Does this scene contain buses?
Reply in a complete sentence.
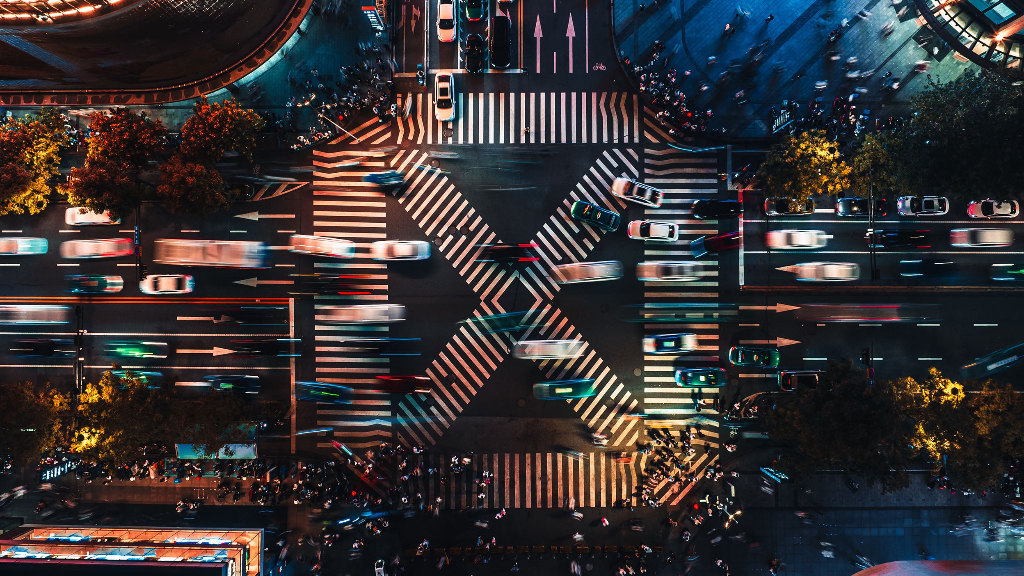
Yes, looking at the shot, I can spot a bus.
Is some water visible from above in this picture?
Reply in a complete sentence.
No, the scene doesn't show any water.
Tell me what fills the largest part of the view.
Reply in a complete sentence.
The scene is dominated by paved ground.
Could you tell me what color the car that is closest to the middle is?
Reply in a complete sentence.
In this view, the car that is closest to the middle is black.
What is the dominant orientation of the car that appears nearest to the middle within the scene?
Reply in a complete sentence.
In this picture, the car that appears nearest to the middle lies horizontally.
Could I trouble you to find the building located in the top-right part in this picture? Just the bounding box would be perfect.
[907,0,1024,75]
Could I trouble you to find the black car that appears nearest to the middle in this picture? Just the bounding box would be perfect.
[486,240,533,264]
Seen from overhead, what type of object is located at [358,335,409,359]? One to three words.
car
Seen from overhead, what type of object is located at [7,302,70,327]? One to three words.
vehicle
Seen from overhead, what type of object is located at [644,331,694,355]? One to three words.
car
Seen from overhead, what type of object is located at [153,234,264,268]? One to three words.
bus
